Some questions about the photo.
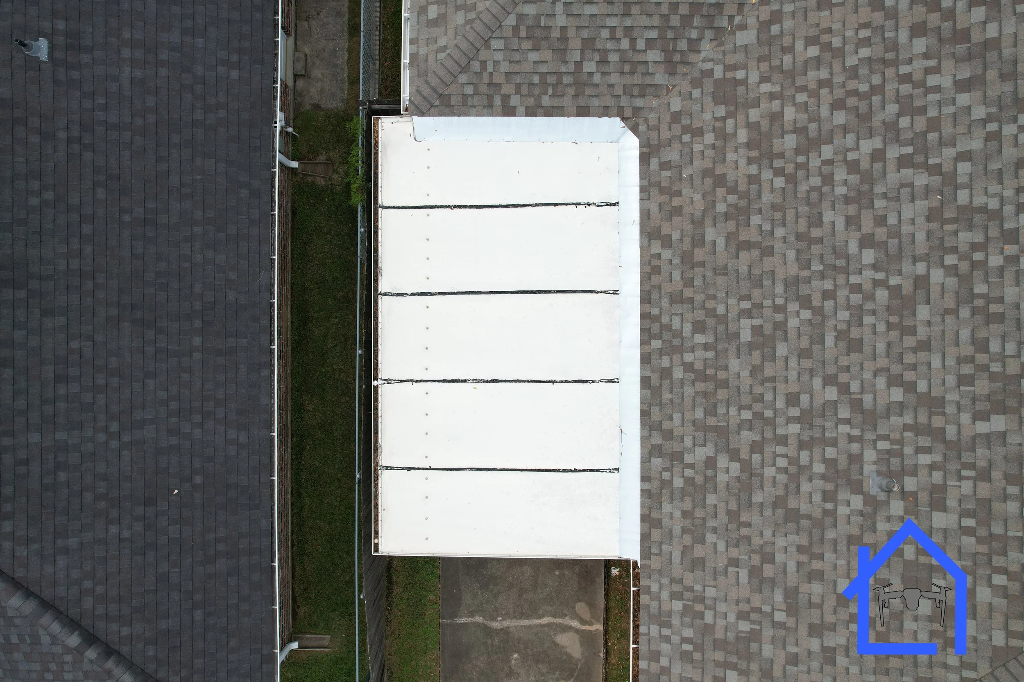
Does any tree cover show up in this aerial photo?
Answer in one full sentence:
No, the scene doesn't show any tree cover.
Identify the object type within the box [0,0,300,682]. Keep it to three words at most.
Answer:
house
